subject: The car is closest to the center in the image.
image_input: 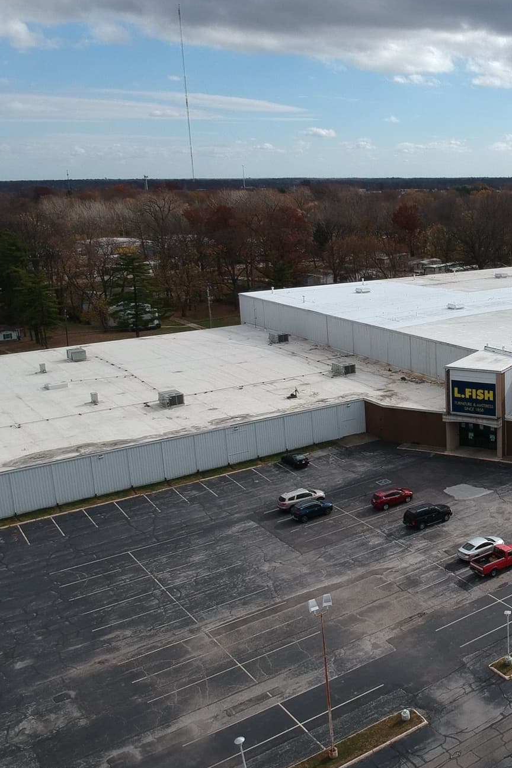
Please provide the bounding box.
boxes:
[280,450,311,467]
